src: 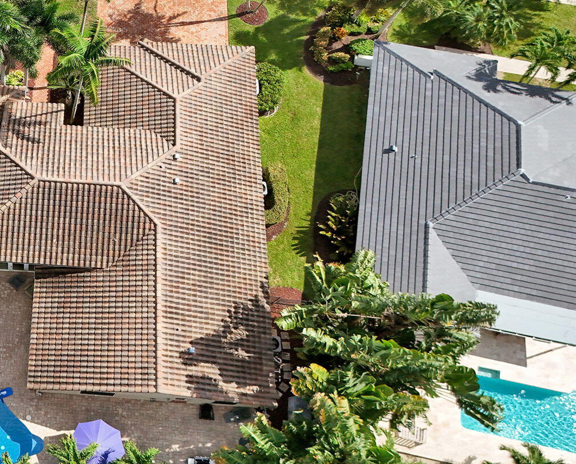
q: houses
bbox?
[0,39,279,404]
[352,40,576,351]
